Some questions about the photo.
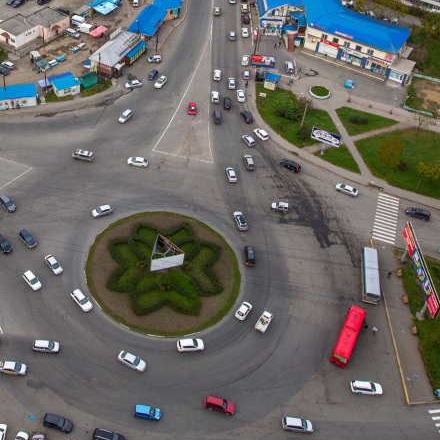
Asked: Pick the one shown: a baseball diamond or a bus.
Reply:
bus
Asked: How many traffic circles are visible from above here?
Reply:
1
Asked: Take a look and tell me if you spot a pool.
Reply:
No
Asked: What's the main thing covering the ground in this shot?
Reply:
paved ground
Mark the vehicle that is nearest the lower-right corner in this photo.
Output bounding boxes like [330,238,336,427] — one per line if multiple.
[349,378,384,396]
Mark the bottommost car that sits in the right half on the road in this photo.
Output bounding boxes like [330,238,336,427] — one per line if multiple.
[282,415,313,435]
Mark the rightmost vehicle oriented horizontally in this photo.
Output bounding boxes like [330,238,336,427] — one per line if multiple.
[405,207,431,222]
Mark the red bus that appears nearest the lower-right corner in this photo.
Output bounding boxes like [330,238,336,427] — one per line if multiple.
[329,303,366,373]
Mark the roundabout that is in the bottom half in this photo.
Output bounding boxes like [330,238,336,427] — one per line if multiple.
[85,215,242,344]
